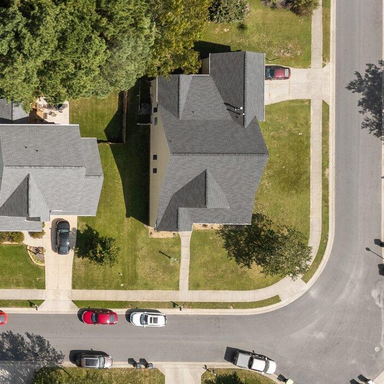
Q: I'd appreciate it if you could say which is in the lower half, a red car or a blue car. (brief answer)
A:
red car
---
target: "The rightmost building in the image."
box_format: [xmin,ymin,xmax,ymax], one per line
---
[150,48,267,233]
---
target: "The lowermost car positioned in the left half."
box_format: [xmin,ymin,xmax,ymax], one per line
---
[76,352,111,370]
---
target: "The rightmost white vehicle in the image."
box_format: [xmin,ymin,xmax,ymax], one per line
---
[232,350,275,373]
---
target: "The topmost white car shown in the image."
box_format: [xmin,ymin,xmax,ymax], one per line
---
[130,311,167,328]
